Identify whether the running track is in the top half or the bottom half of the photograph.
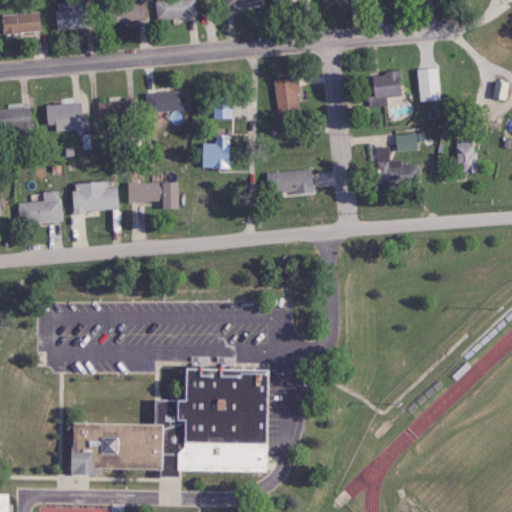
bottom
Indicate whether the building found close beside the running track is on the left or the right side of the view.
left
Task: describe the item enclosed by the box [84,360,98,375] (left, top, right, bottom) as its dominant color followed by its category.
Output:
white vehicle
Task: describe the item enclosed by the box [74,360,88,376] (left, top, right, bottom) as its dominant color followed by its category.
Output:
white vehicle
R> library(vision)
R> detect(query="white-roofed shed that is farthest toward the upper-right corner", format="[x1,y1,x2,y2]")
[494,78,510,102]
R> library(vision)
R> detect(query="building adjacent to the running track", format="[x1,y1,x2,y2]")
[72,366,270,476]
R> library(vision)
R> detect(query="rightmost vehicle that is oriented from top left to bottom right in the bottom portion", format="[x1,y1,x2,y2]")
[115,360,129,376]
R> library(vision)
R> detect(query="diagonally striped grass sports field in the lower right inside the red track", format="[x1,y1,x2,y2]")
[382,352,512,512]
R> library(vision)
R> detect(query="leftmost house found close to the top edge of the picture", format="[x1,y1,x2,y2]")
[2,13,42,38]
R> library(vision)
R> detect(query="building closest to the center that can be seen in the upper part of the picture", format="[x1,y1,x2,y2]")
[268,169,316,199]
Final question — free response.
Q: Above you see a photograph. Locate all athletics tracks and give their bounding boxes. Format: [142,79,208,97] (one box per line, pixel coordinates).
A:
[345,330,512,512]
